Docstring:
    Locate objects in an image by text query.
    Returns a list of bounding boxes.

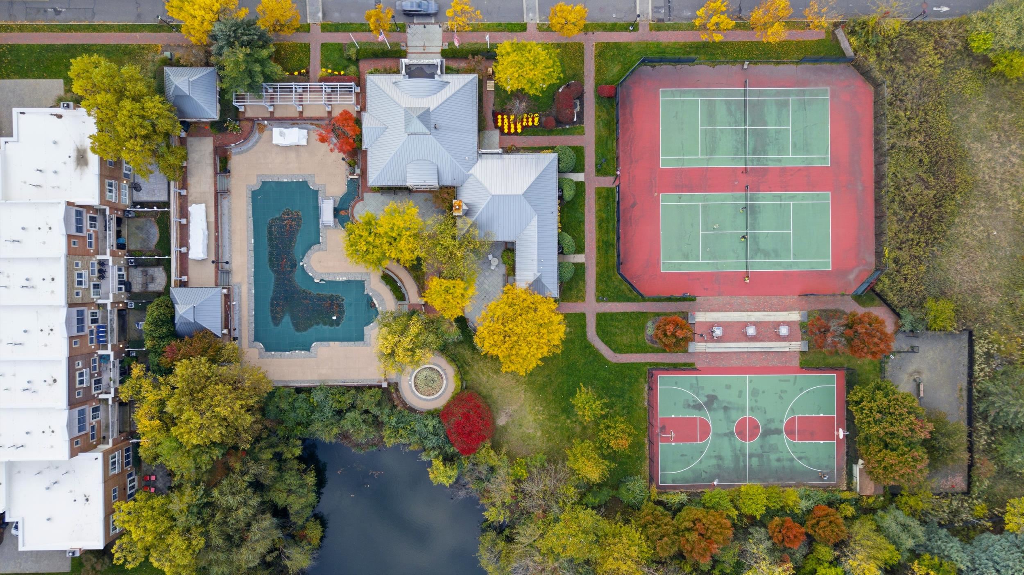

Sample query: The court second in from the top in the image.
[660,192,831,272]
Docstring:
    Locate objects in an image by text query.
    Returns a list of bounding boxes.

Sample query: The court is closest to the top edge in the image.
[660,87,830,167]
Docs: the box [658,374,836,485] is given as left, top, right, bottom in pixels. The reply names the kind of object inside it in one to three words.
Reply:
basketball court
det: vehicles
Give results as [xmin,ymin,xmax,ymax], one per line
[0,511,5,533]
[13,522,18,535]
[399,0,435,15]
